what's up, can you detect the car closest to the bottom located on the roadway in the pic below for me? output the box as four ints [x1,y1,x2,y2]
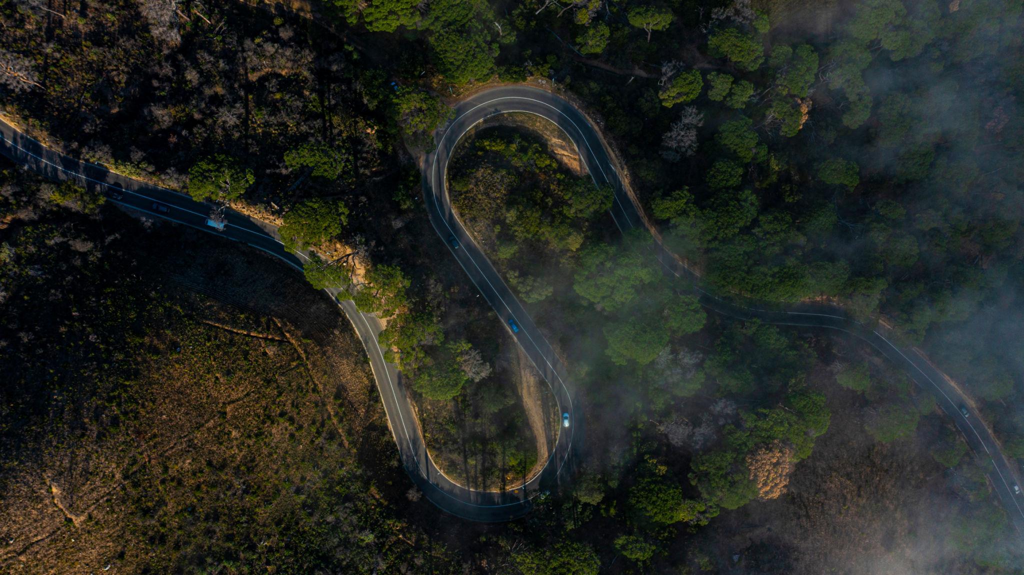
[1010,479,1022,494]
